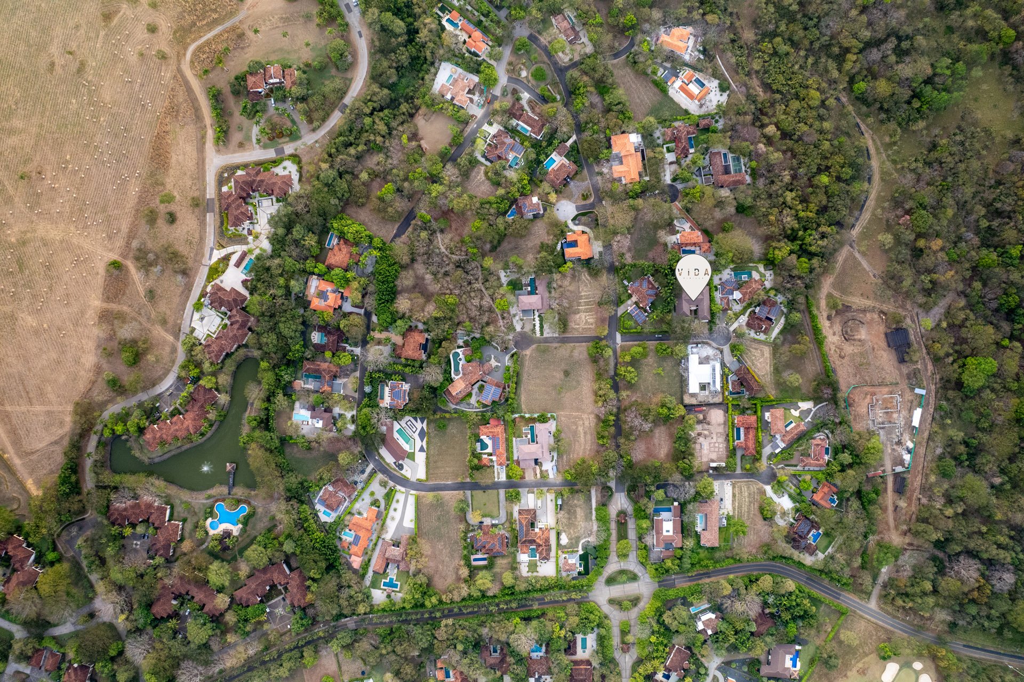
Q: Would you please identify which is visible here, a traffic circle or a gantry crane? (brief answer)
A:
traffic circle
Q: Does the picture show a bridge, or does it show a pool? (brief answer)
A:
pool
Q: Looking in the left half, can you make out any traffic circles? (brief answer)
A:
No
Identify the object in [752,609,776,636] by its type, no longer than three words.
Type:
house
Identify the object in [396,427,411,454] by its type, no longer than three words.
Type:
swimming pool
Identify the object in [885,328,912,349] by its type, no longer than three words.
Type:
shed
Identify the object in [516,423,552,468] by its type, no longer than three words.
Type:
house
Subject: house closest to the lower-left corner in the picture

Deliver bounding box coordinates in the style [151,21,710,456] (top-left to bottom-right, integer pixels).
[31,649,63,670]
